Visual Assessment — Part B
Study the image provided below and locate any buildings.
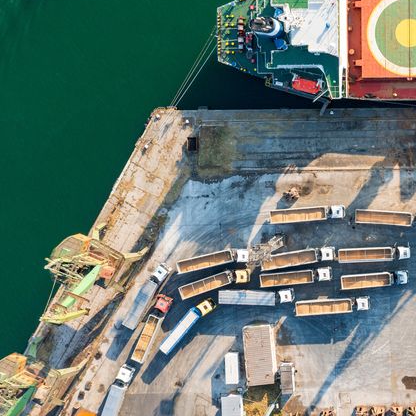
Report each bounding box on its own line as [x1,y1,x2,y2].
[280,360,295,394]
[242,322,279,386]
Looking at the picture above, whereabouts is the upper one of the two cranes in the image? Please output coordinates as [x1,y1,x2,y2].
[41,217,152,317]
